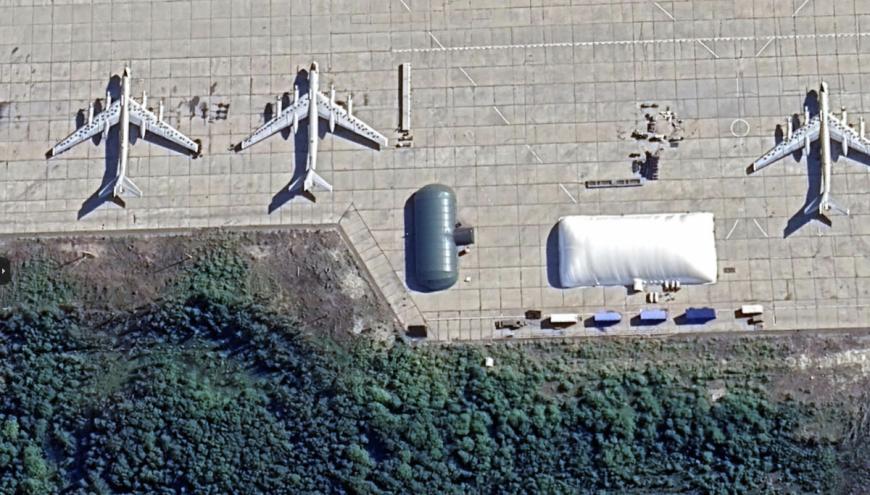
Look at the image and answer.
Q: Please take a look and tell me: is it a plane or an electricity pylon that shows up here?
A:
plane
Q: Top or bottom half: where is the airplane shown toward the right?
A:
top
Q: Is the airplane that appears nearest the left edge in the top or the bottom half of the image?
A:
top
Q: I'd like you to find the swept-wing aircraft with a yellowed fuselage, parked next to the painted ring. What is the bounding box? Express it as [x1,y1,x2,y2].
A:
[752,79,870,215]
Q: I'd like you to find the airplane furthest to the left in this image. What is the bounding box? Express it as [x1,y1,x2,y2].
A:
[54,68,198,197]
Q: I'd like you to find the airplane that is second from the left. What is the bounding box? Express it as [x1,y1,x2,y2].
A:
[243,63,387,194]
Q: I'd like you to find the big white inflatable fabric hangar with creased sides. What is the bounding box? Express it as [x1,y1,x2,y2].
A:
[555,210,719,292]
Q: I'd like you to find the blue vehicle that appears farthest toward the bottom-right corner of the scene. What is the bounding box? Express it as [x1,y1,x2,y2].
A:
[686,307,719,319]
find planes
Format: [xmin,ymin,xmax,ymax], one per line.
[54,68,198,197]
[243,63,387,194]
[752,79,870,215]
